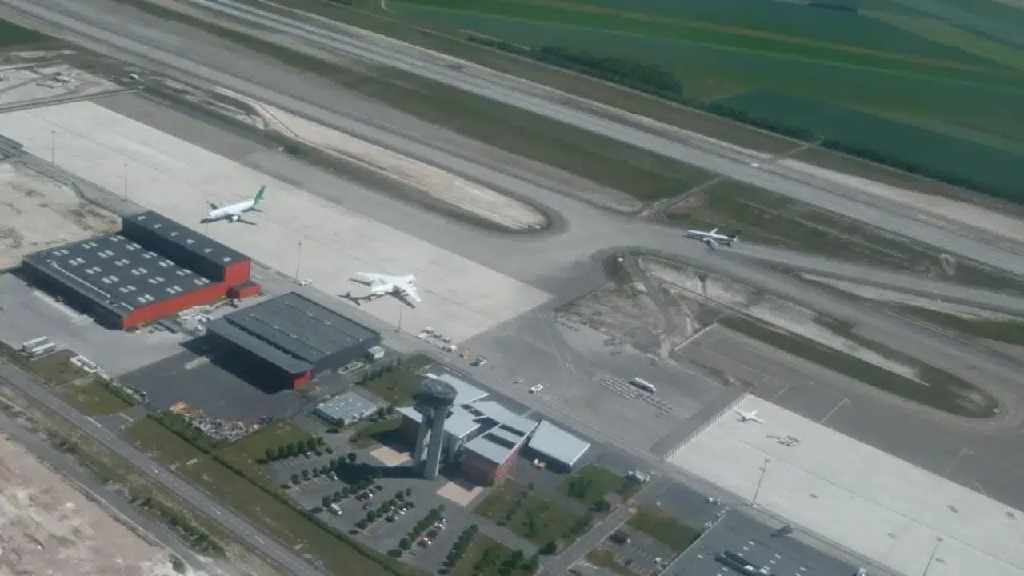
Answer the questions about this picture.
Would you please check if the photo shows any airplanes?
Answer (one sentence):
Yes, the image includes an airplane.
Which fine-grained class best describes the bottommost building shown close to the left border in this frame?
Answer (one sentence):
The bottommost building shown close to the left border is a warehouse.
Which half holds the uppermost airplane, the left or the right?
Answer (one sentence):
The uppermost airplane sits on the left side.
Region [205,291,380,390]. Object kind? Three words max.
hangar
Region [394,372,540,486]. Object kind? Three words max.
building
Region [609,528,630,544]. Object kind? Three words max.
vehicle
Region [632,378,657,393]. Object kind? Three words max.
vehicle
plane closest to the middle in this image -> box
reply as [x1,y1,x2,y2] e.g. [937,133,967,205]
[354,272,418,302]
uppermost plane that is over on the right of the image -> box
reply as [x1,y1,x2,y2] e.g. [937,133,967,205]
[684,228,740,246]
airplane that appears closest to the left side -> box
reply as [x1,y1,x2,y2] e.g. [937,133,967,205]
[206,186,265,221]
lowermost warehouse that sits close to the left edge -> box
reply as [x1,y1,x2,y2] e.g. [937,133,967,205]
[24,209,250,331]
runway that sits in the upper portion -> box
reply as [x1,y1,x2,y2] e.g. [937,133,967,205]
[198,0,1024,274]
